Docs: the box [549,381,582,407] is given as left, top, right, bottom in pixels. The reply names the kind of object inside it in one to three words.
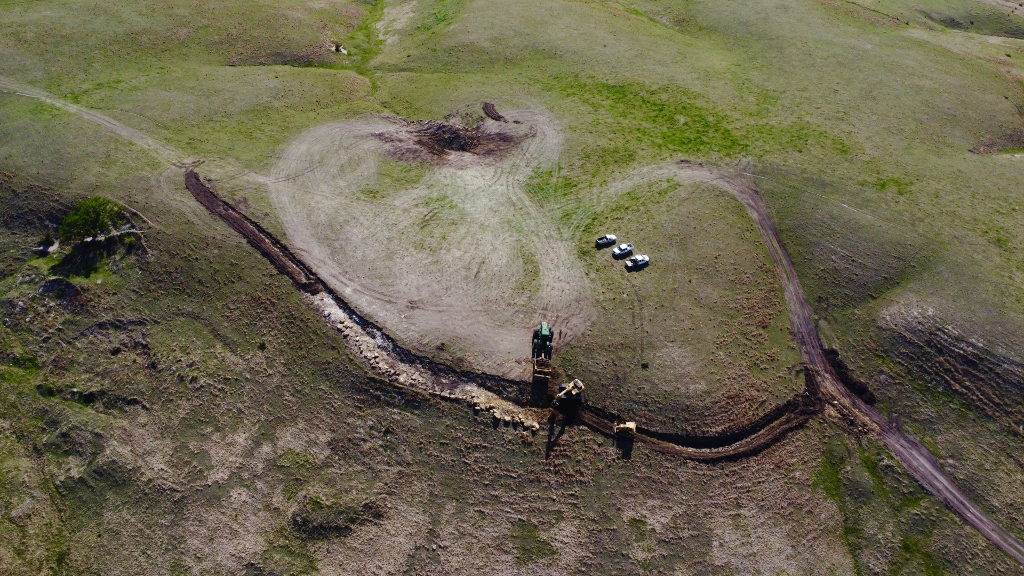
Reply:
work vehicle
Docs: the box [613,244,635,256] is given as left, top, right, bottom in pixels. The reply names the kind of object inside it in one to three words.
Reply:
vehicle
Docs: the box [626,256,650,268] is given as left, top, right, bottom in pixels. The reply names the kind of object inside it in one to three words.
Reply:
vehicle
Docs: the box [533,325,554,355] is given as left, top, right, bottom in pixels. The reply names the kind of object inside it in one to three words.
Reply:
work vehicle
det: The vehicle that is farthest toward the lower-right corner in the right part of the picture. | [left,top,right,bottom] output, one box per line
[612,422,636,440]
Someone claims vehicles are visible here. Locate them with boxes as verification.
[596,235,618,246]
[613,244,635,256]
[549,381,582,407]
[533,325,554,355]
[612,422,636,440]
[626,256,650,268]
